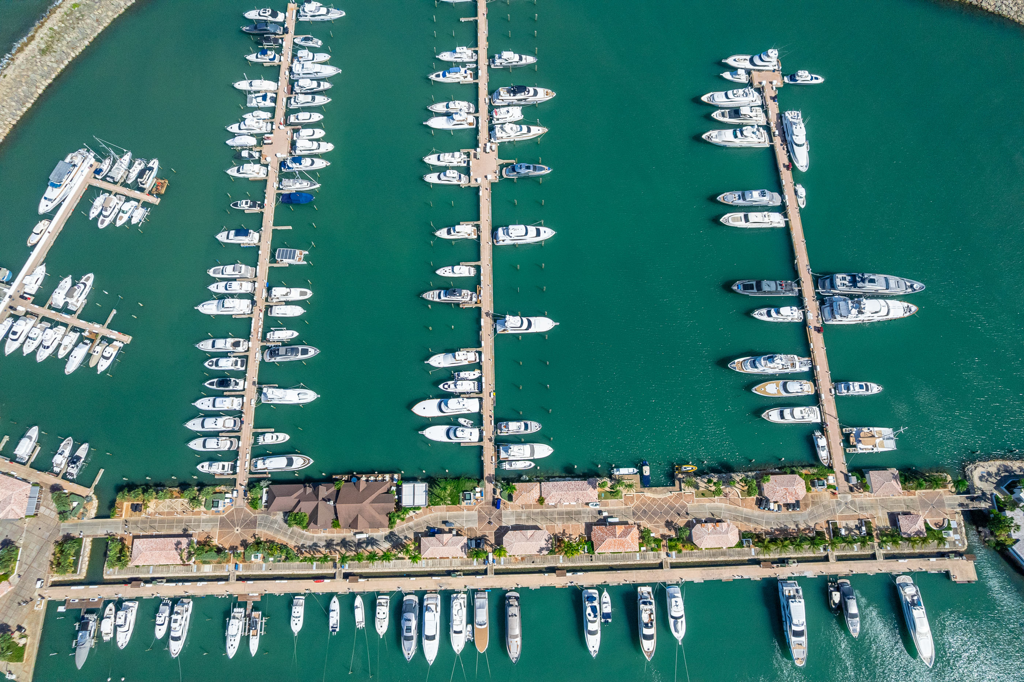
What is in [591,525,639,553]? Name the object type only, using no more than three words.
building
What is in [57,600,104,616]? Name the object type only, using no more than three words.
pier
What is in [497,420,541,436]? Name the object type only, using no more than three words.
boat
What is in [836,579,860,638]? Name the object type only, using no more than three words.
boat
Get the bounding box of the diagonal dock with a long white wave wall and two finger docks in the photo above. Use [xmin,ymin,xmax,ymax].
[0,157,161,354]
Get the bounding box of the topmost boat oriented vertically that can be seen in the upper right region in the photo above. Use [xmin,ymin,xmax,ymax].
[787,109,810,172]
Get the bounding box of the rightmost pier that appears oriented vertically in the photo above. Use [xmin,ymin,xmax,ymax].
[750,69,847,469]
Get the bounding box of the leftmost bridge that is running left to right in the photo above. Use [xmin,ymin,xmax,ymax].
[59,519,112,535]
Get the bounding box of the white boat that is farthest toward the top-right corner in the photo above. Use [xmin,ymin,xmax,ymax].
[784,73,824,85]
